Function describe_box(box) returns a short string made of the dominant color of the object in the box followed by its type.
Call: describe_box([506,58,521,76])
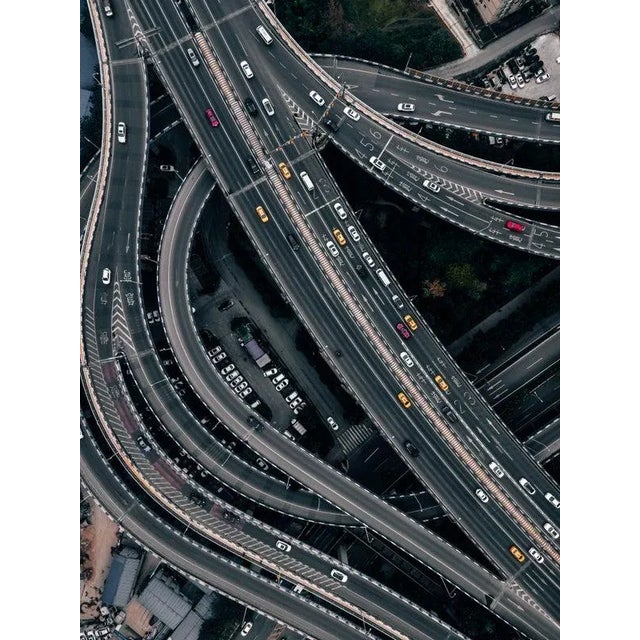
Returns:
black vehicle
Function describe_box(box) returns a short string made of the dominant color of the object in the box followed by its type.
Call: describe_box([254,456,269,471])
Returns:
gray car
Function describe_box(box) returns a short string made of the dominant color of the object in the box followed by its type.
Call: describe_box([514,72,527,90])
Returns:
white vehicle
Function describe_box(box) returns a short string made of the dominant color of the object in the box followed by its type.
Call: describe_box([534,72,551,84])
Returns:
white vehicle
